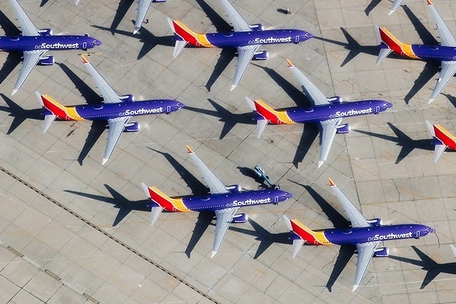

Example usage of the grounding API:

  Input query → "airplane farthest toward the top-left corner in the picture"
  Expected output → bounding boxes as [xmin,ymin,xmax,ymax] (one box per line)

[0,0,100,95]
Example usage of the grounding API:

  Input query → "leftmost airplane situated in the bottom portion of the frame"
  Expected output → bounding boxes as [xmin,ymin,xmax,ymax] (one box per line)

[140,146,292,259]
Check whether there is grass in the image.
No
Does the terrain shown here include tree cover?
No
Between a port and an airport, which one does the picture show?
airport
